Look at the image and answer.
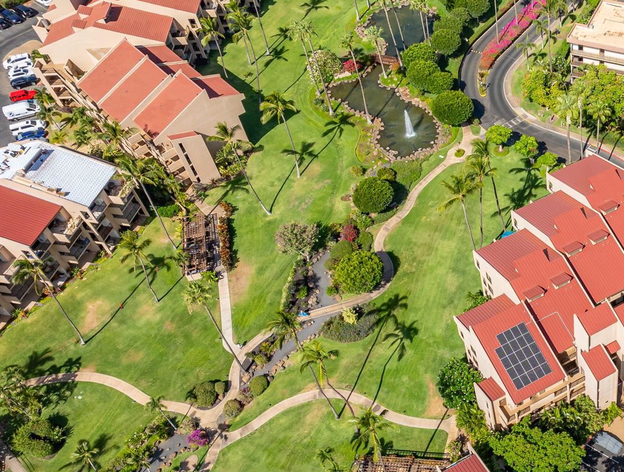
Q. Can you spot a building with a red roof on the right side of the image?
Yes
